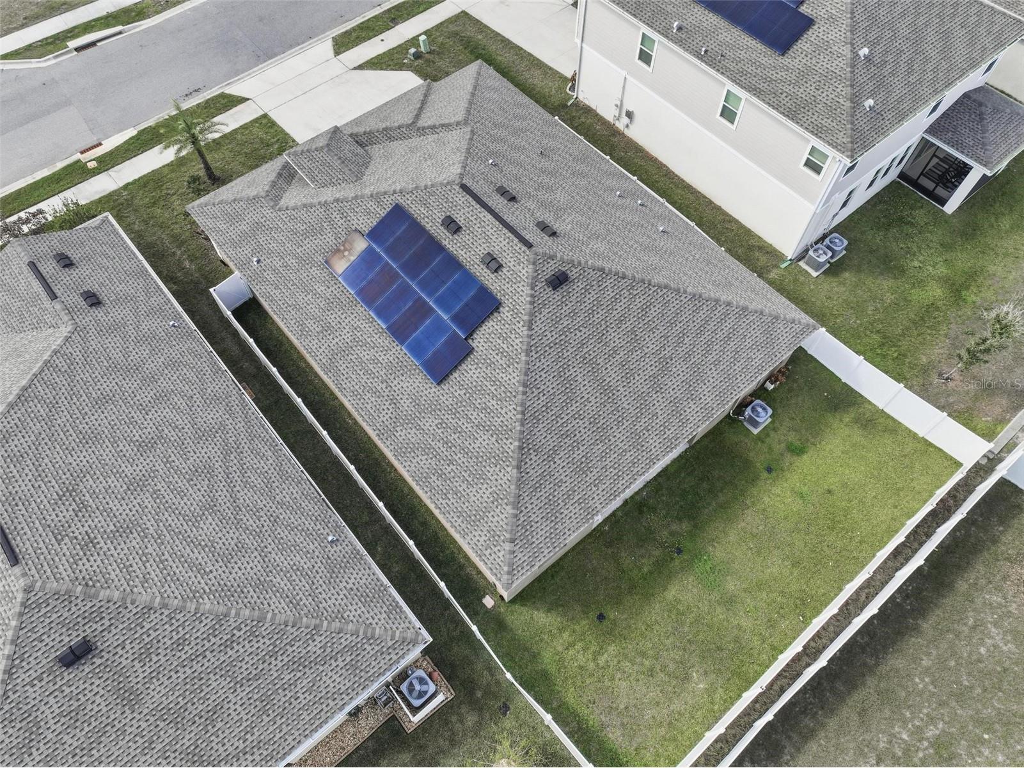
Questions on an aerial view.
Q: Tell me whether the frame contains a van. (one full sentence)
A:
No, there isn't any van down there.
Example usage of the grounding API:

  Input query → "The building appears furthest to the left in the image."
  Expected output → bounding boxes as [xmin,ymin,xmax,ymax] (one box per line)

[0,210,436,768]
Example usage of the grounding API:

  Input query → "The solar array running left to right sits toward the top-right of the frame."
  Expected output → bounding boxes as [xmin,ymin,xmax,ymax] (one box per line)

[694,0,813,54]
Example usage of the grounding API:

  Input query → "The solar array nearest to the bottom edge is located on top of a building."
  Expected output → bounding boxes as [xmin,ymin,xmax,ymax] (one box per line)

[324,204,497,383]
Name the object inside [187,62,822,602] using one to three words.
house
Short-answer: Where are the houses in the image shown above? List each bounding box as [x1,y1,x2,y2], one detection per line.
[187,62,822,602]
[0,210,436,768]
[571,0,1024,260]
